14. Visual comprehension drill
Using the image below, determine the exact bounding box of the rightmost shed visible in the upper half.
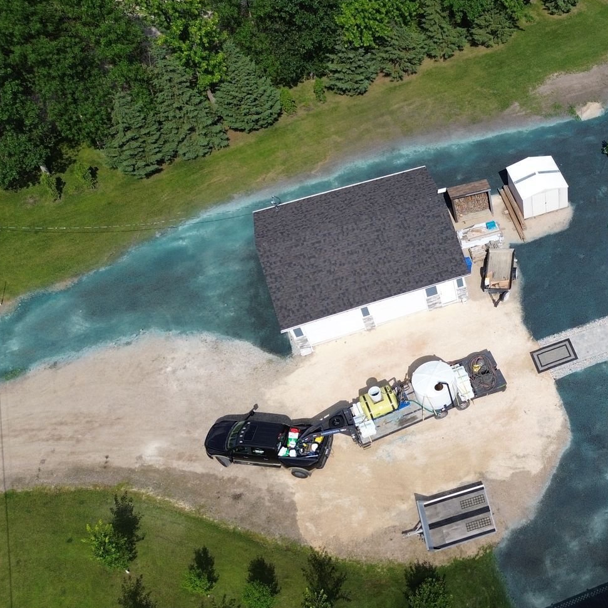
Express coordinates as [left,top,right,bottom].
[507,155,568,219]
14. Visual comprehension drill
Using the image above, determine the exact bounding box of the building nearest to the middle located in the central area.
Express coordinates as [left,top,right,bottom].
[255,165,471,354]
